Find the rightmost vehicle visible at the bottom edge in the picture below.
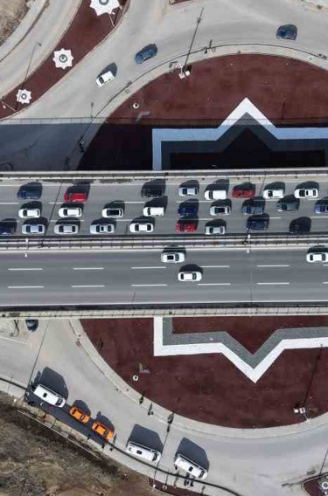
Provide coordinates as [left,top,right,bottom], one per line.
[172,453,208,477]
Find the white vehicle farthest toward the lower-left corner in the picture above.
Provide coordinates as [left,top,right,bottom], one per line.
[30,381,67,408]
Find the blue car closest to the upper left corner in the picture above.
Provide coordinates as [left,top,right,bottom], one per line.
[134,46,157,62]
